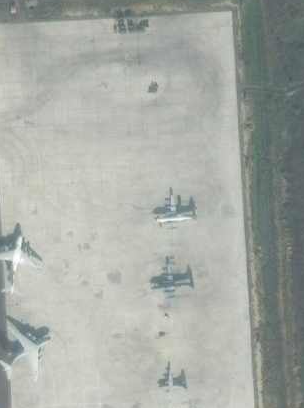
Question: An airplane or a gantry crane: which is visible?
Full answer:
The one in the frame is an airplane.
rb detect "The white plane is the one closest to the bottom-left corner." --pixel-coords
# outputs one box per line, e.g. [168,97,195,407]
[0,325,49,379]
